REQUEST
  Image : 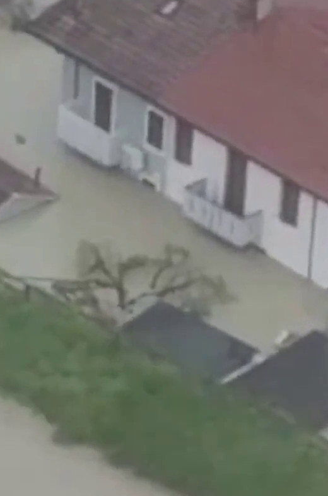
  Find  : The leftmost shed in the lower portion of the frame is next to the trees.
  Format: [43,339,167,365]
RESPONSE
[109,299,257,391]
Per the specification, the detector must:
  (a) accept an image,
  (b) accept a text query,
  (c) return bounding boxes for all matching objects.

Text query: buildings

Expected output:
[0,162,59,236]
[22,0,328,286]
[218,329,328,446]
[109,299,257,391]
